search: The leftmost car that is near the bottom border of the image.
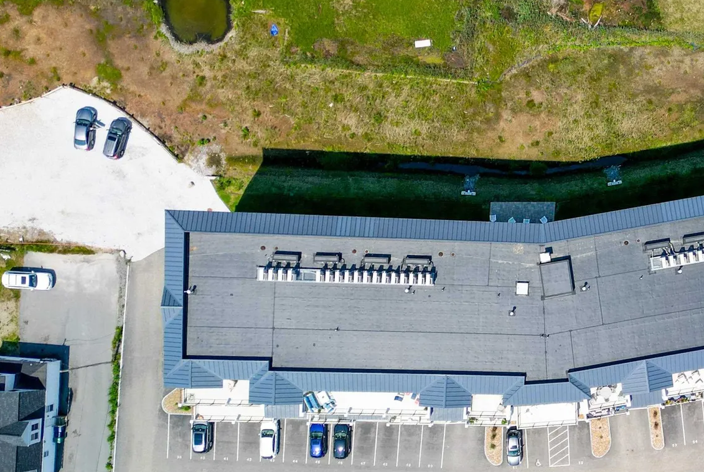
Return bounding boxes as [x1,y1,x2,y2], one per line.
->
[191,419,212,454]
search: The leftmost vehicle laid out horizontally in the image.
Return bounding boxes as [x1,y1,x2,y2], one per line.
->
[6,270,50,290]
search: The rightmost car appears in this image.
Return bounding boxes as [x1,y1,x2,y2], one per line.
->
[504,426,523,466]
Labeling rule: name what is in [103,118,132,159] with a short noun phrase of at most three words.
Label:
car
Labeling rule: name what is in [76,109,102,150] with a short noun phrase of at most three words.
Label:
car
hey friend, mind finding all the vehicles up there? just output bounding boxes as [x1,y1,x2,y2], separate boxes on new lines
[6,270,50,290]
[504,426,523,466]
[103,118,132,159]
[307,422,326,456]
[332,422,350,457]
[259,421,279,458]
[76,109,102,150]
[191,419,212,454]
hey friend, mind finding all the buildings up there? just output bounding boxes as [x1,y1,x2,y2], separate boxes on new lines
[160,195,704,430]
[0,353,62,472]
